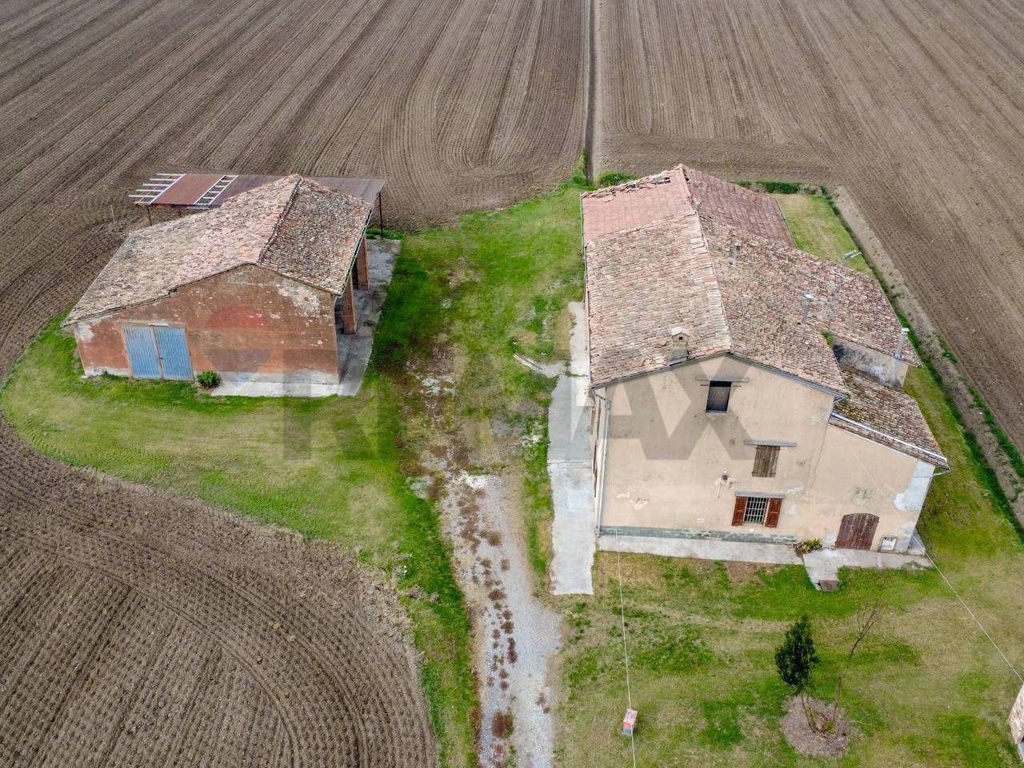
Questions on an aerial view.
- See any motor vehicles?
No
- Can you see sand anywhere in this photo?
No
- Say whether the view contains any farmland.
Yes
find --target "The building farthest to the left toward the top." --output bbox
[59,172,373,382]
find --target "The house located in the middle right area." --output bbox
[577,164,952,551]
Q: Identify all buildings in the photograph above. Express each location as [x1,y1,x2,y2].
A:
[59,172,373,382]
[1008,682,1024,768]
[577,164,952,551]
